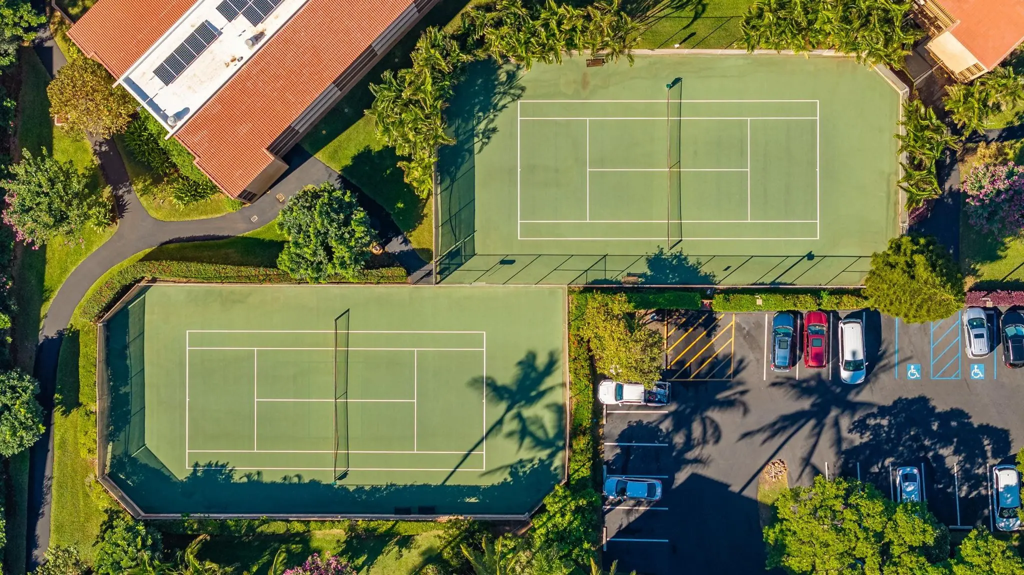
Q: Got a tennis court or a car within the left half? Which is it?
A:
tennis court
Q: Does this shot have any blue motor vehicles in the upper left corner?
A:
No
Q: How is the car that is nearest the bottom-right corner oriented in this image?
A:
from top to bottom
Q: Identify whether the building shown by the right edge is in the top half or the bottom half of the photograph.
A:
top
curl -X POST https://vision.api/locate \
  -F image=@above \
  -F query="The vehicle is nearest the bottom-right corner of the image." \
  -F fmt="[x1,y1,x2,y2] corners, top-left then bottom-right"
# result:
[991,464,1023,531]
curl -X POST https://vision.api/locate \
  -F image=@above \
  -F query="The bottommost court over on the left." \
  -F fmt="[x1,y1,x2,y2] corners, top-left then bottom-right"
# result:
[107,287,566,514]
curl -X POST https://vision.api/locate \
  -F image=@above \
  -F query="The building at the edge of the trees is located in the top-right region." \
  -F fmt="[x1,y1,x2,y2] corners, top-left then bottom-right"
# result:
[890,0,1024,95]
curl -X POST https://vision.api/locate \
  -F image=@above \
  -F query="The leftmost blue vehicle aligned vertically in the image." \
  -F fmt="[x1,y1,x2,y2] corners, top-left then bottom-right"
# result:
[769,311,798,372]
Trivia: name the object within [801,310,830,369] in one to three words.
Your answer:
car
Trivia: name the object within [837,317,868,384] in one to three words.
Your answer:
car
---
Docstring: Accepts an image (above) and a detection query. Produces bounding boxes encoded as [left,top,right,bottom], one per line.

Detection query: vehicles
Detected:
[801,310,830,369]
[960,305,990,360]
[837,317,868,384]
[602,475,662,502]
[769,311,798,372]
[991,464,1023,531]
[598,378,671,408]
[895,464,925,522]
[998,308,1024,371]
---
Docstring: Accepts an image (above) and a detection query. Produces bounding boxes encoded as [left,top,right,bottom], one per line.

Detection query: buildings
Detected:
[63,0,440,204]
[890,0,1024,95]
